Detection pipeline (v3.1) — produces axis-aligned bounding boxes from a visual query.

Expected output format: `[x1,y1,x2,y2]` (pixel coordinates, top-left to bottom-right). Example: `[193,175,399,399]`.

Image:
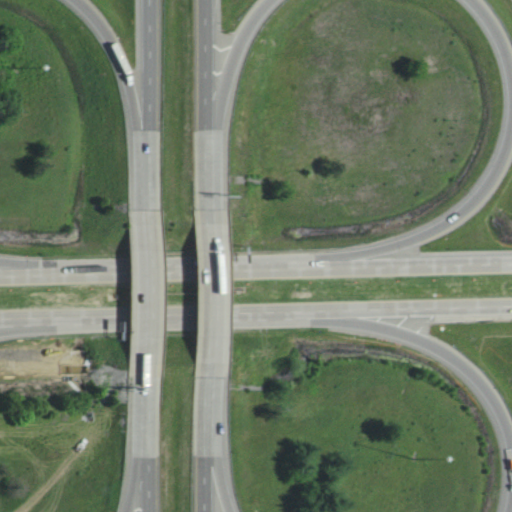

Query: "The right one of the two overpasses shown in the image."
[194,210,234,378]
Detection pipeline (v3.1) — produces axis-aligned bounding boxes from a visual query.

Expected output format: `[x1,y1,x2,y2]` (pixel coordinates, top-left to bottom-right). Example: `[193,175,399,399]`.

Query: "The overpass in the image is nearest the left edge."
[128,210,167,378]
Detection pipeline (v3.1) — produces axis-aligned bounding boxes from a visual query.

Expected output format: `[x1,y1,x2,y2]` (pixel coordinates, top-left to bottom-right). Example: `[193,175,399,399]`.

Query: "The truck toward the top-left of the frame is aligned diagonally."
[107,42,133,82]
